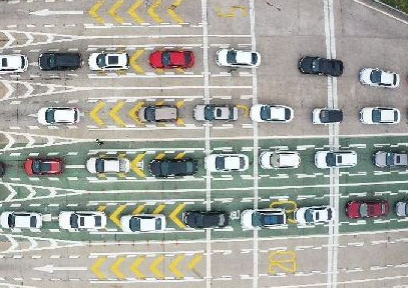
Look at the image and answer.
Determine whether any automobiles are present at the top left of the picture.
Yes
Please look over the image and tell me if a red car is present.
Yes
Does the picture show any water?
No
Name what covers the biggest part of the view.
paved ground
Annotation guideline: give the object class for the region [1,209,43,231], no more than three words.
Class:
car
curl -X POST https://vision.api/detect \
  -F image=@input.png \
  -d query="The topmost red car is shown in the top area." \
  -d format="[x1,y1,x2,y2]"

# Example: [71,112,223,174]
[149,47,194,70]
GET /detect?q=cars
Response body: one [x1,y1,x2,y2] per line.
[39,104,79,125]
[204,152,249,174]
[357,66,399,88]
[248,102,293,124]
[297,54,344,76]
[312,148,357,170]
[89,50,130,72]
[193,102,238,123]
[342,198,389,221]
[293,204,332,227]
[215,46,260,68]
[310,105,343,126]
[86,154,131,175]
[182,208,229,231]
[137,103,178,123]
[0,54,29,73]
[258,148,300,171]
[149,157,198,178]
[239,207,285,231]
[25,156,64,177]
[39,50,81,71]
[149,47,194,70]
[59,209,107,232]
[357,104,400,125]
[1,209,43,231]
[120,212,166,234]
